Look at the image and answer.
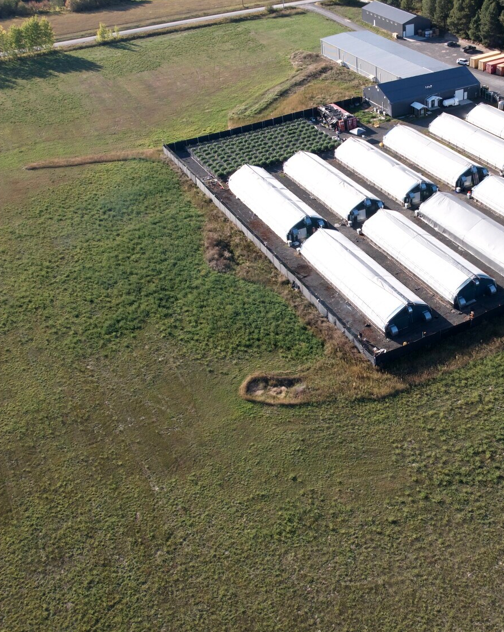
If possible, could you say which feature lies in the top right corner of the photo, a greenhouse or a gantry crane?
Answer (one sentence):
You can see a greenhouse in the top right corner of the photo.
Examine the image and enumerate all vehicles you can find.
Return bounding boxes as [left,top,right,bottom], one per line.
[445,39,460,45]
[455,56,465,65]
[460,43,478,52]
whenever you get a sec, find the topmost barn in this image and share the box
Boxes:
[361,0,430,40]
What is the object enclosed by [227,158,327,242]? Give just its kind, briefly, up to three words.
greenhouse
